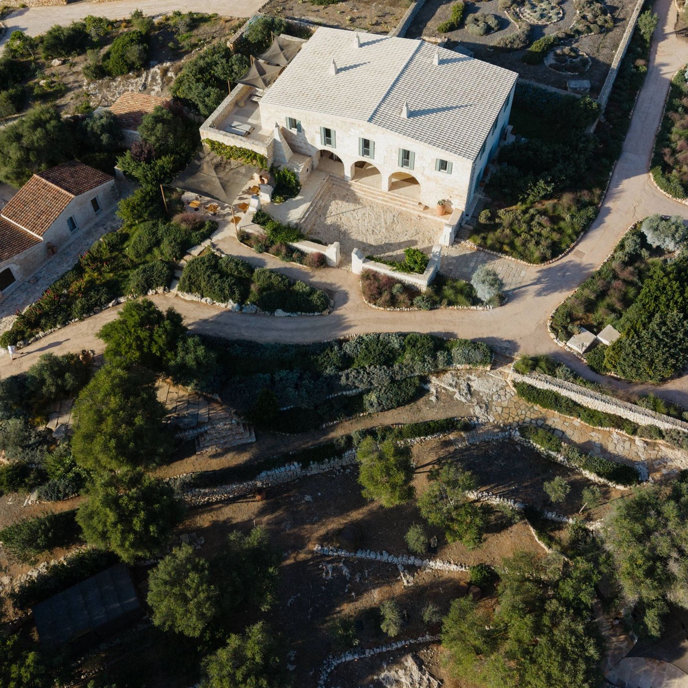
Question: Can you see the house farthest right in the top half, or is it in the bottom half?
top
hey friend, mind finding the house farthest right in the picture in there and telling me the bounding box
[258,21,521,218]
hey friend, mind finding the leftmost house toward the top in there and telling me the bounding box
[0,155,124,303]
